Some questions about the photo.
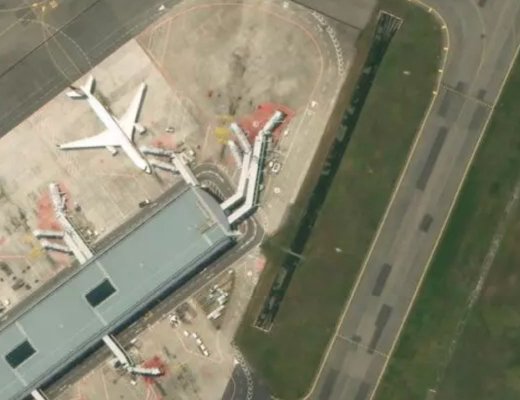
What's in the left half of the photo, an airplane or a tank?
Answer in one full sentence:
The feature located in the left half of the photo is an airplane.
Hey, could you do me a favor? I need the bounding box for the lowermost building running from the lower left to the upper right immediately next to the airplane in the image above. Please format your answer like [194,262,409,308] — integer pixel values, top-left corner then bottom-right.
[0,185,247,400]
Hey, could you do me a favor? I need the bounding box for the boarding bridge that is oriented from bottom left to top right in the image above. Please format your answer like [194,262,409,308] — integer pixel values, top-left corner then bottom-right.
[258,111,282,136]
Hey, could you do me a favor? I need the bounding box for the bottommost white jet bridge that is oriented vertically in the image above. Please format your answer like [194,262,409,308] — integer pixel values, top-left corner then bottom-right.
[51,184,66,220]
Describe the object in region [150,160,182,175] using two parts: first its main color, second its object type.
white jet bridge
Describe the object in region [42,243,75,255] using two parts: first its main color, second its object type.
white jet bridge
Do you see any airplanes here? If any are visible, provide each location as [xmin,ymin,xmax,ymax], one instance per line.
[61,74,151,173]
